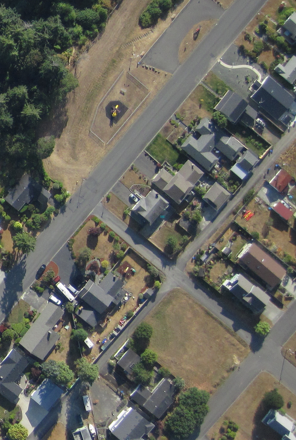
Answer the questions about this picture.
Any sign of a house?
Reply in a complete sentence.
Yes, a house can be made out from above.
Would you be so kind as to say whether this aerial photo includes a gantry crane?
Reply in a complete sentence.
No, the scene contains no gantry crane.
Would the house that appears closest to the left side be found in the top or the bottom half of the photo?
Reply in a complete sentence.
The bottom half of the photo is where the house that appears closest to the left side is.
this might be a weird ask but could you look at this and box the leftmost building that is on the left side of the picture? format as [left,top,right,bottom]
[0,350,29,405]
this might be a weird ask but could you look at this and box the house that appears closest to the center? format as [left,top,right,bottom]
[130,188,168,225]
